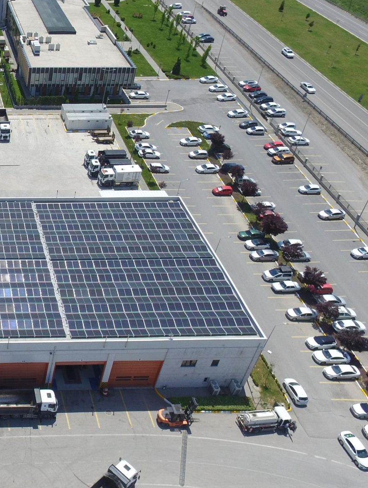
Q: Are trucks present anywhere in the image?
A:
Yes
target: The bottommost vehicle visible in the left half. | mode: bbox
[99,451,142,488]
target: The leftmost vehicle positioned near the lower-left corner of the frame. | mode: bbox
[0,392,63,426]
